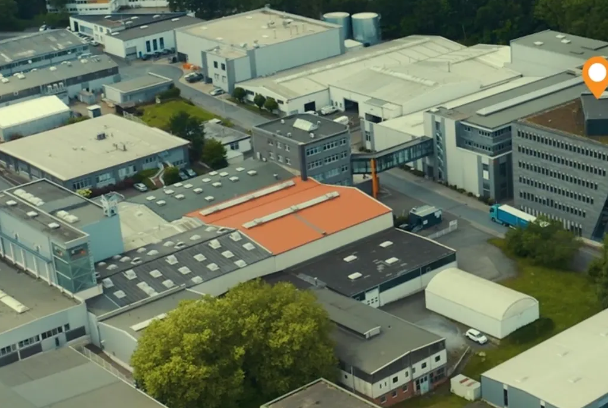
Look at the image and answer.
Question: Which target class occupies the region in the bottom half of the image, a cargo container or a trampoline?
cargo container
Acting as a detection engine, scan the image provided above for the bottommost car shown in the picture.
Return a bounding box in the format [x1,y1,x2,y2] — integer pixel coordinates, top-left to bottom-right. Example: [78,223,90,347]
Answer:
[463,328,489,343]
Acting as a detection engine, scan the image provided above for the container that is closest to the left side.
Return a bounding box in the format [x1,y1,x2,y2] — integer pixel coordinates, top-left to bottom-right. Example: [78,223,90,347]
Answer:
[402,202,445,227]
